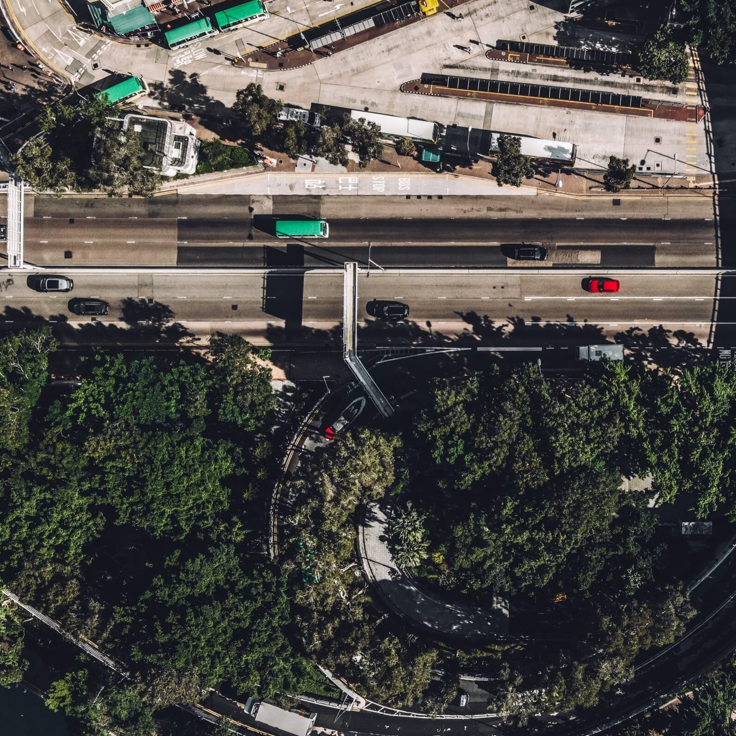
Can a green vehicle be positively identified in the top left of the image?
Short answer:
Yes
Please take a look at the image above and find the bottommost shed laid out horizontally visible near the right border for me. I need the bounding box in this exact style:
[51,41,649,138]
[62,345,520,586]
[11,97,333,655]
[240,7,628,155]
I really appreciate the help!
[680,520,711,533]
